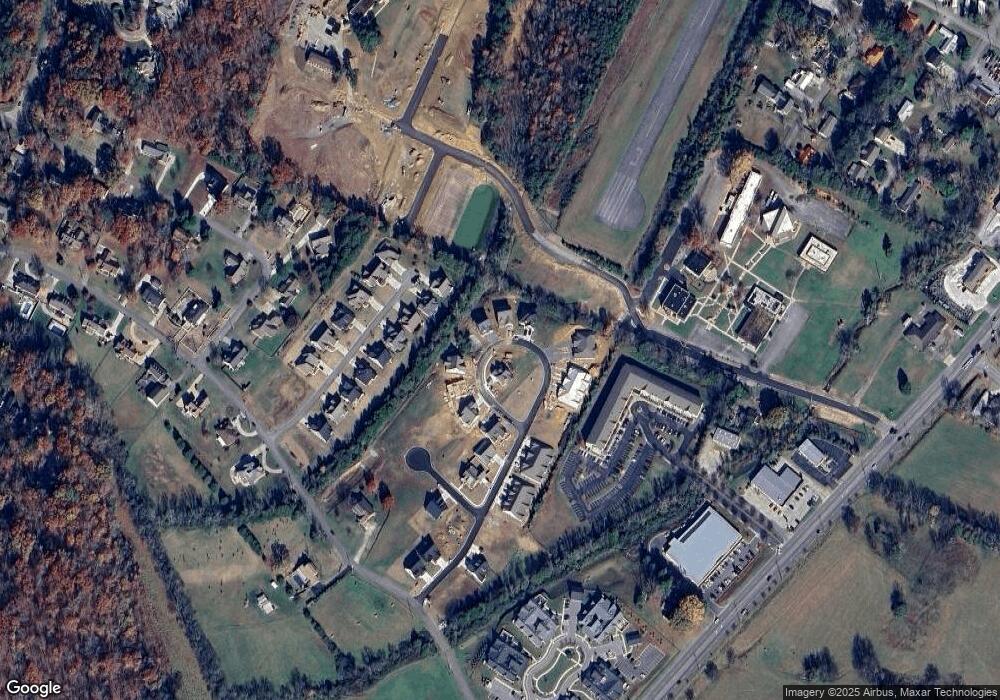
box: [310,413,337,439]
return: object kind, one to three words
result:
house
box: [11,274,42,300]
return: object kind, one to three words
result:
house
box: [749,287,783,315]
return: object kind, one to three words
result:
building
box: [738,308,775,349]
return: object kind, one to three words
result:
building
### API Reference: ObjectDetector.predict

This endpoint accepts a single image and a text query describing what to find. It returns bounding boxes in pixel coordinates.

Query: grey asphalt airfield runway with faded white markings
[597,0,724,226]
